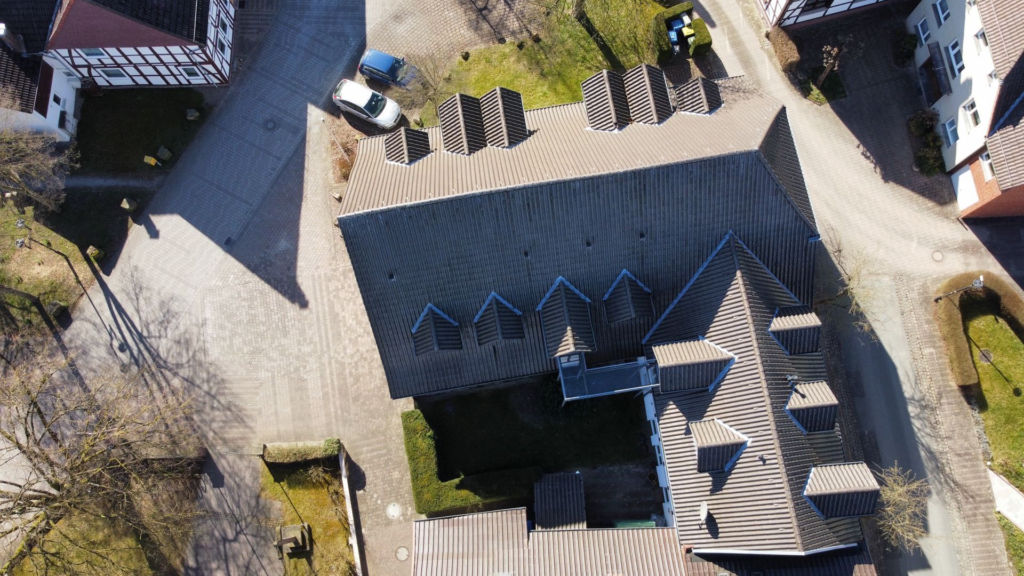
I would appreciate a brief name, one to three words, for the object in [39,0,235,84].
house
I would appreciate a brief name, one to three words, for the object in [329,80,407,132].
car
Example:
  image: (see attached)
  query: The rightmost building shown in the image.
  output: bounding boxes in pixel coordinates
[899,0,1024,215]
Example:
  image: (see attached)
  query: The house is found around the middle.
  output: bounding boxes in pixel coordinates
[337,62,882,561]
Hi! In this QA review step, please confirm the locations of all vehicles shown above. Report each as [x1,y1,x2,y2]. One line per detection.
[329,80,407,132]
[352,47,424,99]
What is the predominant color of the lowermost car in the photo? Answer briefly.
white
